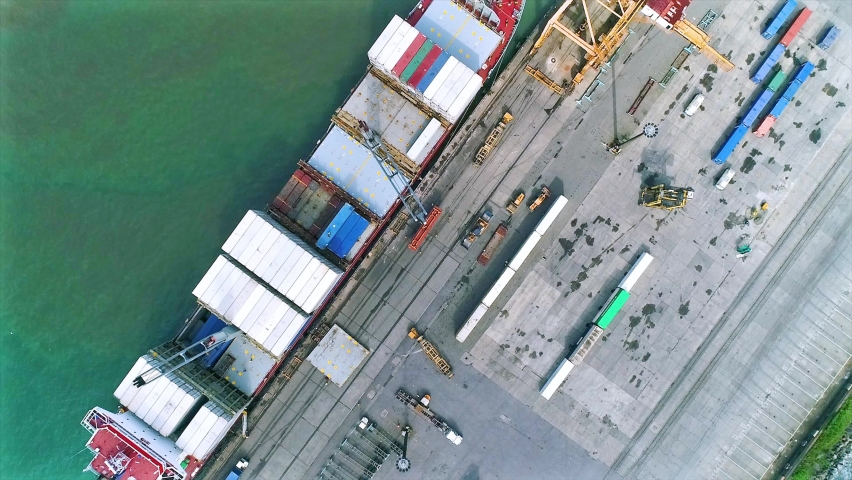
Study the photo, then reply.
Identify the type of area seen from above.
port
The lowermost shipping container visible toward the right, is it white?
Yes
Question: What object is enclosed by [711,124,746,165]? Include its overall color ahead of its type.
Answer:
blue shipping container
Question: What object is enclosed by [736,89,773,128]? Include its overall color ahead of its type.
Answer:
blue shipping container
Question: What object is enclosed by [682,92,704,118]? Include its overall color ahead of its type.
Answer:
white vehicle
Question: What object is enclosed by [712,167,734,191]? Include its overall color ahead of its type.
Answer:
white vehicle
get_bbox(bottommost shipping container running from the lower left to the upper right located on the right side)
[542,355,576,397]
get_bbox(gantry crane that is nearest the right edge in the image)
[522,0,738,96]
